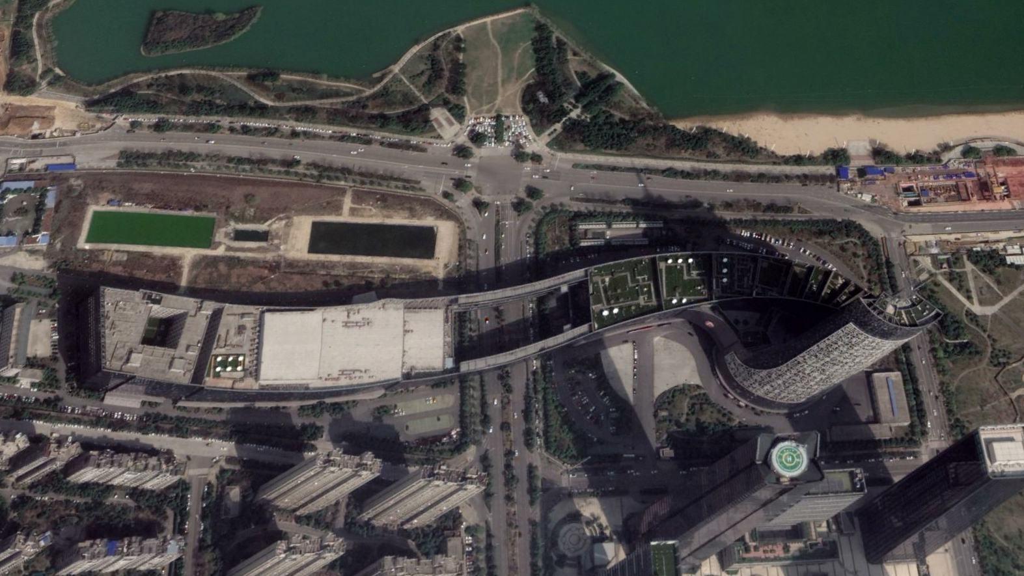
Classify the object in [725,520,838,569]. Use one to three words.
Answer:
building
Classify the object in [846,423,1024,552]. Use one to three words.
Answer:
building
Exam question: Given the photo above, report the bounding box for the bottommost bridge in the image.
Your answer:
[452,323,594,377]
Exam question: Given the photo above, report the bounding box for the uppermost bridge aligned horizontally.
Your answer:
[454,269,587,308]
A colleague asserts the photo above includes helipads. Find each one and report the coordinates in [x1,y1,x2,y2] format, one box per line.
[771,441,809,478]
